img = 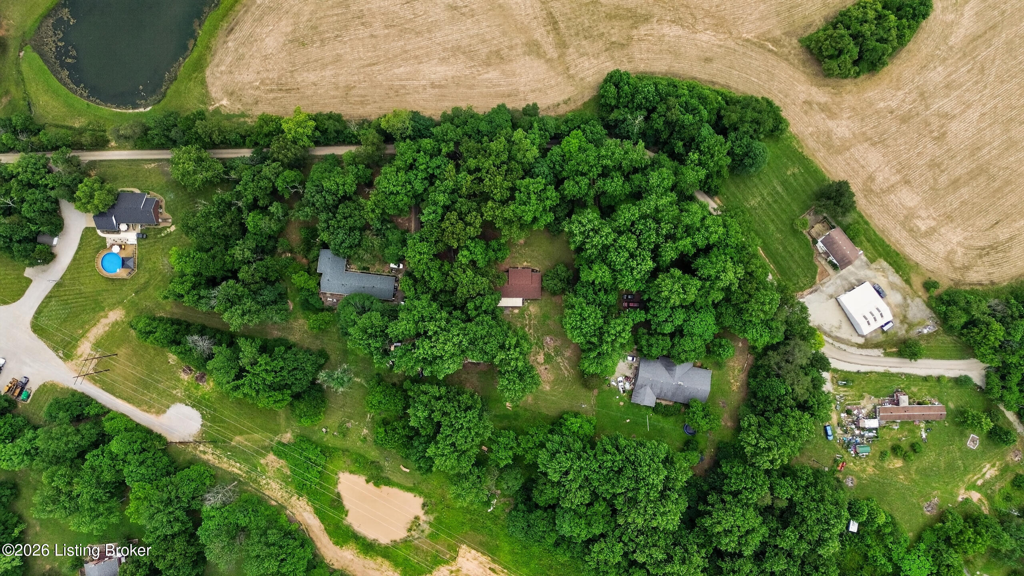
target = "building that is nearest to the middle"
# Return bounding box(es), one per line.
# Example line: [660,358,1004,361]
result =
[499,269,541,299]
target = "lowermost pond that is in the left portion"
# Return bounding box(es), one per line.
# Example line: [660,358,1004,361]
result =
[337,470,423,542]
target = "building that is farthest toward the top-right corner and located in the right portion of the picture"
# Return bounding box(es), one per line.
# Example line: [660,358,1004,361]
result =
[817,227,864,270]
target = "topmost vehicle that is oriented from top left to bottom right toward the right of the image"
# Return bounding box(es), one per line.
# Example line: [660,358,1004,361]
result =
[872,282,887,299]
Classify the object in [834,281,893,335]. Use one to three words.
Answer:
barn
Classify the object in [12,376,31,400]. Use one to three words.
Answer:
vehicle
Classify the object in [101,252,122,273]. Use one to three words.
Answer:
swimming pool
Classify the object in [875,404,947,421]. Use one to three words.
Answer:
house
